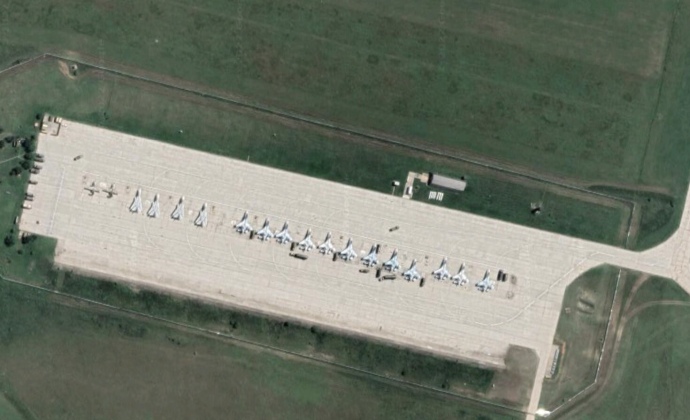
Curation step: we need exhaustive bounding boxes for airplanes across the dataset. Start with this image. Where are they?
[435,257,451,280]
[275,222,291,245]
[129,189,142,214]
[477,270,493,294]
[256,218,272,242]
[404,260,420,283]
[147,194,159,218]
[384,250,401,273]
[195,203,207,228]
[363,245,380,268]
[102,183,117,200]
[340,237,356,262]
[453,264,469,287]
[299,229,315,251]
[83,181,99,198]
[318,232,335,256]
[172,196,185,221]
[235,212,251,235]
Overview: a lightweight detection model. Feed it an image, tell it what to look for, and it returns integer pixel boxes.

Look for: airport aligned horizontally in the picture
[19,113,690,367]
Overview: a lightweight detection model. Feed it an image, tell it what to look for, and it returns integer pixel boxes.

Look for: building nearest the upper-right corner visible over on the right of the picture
[430,175,467,191]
